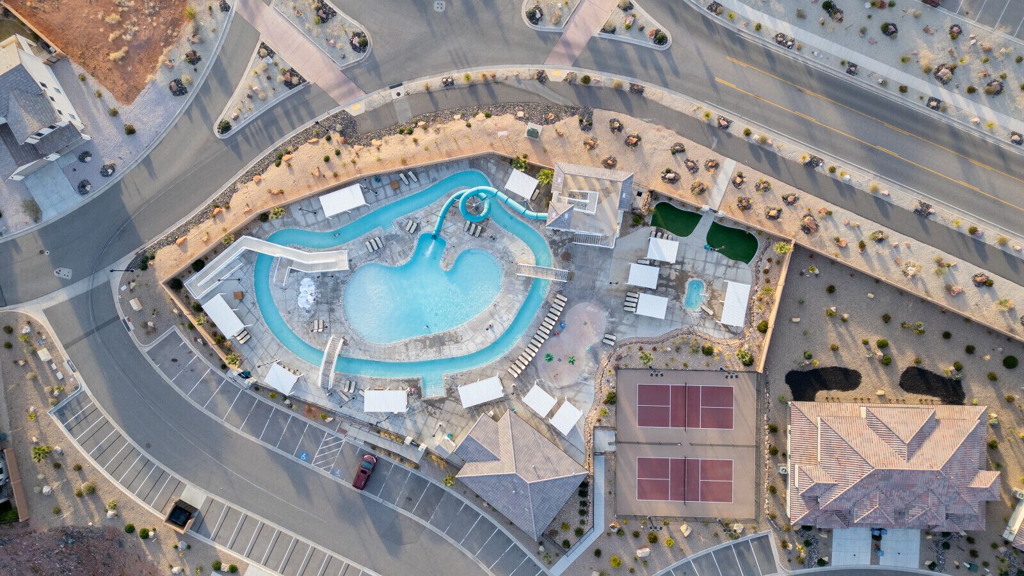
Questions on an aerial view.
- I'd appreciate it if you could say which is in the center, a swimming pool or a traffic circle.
swimming pool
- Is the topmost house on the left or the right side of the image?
left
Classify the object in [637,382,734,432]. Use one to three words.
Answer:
sports court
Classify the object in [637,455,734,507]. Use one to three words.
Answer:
sports court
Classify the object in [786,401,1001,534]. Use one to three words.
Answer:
house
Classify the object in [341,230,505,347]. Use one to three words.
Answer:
swimming pool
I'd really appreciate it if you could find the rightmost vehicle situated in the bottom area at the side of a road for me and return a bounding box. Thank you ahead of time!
[348,452,378,495]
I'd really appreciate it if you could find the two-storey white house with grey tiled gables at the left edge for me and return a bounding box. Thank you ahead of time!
[0,32,90,183]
